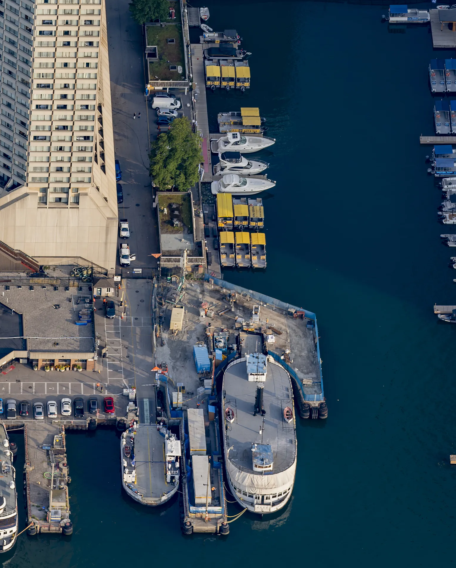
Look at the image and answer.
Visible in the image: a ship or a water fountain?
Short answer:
ship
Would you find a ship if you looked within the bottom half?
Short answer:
Yes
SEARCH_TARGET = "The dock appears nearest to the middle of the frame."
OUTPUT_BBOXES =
[203,205,221,273]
